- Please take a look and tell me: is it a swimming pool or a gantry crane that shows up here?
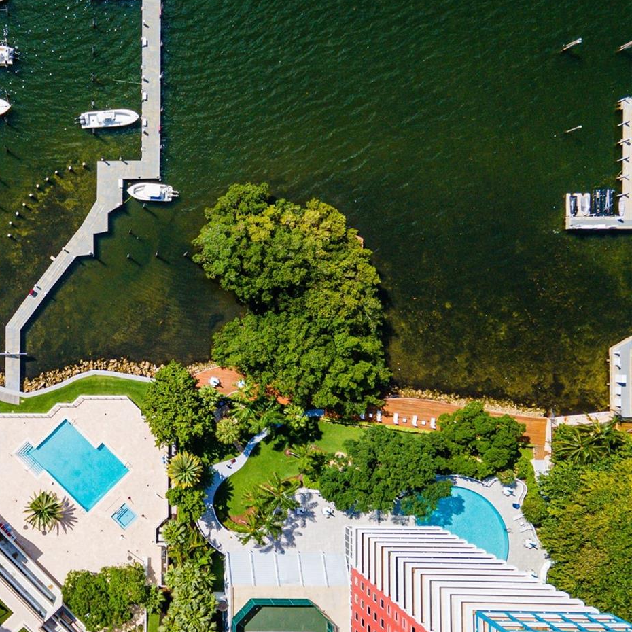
swimming pool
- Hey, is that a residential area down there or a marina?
marina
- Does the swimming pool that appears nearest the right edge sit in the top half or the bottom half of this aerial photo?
bottom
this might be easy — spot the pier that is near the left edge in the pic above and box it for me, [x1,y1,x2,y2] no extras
[5,0,160,396]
